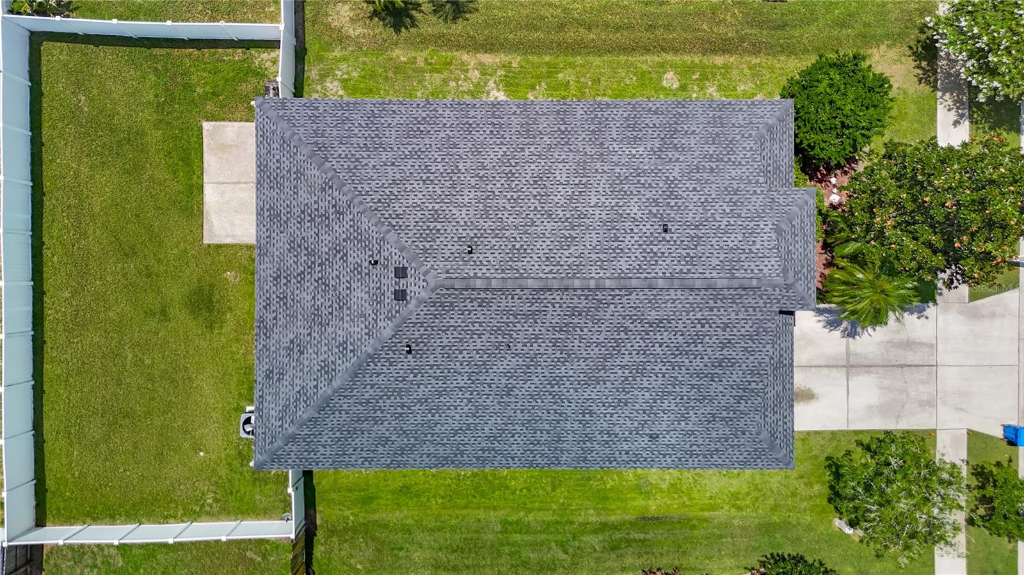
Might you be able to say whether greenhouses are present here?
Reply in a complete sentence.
No, there isn't any greenhouse down there.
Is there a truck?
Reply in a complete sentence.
No, there's no truck here.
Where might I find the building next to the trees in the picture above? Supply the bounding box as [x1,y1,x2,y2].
[252,95,819,472]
